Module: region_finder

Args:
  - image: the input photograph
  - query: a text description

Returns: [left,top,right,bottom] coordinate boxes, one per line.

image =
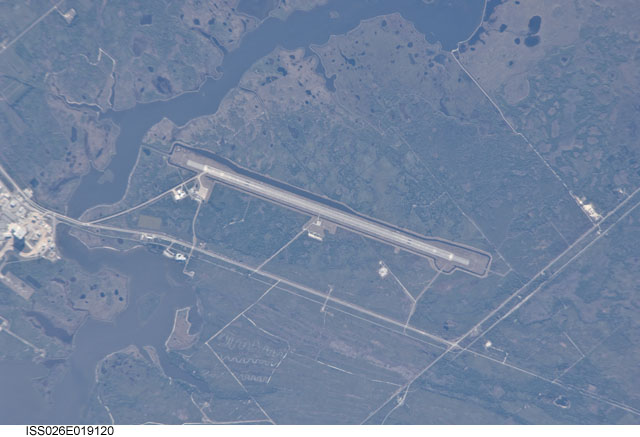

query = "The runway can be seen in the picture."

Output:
[204,165,452,259]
